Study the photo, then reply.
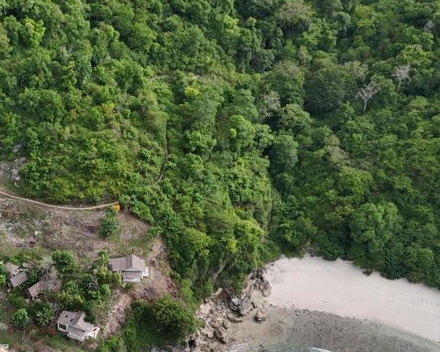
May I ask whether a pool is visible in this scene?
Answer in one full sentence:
No, no pool can be seen from above.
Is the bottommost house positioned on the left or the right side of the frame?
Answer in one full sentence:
You can find the bottommost house on the left side of the picture.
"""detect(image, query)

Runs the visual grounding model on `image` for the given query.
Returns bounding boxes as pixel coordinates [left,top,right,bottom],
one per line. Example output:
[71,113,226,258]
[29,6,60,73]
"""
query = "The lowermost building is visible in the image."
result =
[50,308,96,346]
